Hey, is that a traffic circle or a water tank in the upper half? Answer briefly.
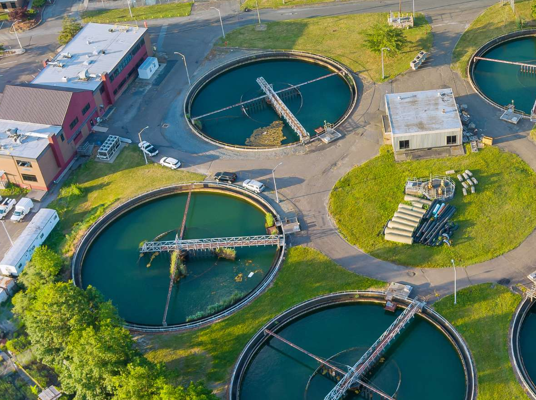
water tank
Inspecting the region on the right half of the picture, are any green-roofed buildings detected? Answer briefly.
No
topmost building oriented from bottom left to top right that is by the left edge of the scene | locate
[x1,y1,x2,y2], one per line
[0,21,155,193]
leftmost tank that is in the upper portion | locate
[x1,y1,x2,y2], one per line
[183,49,358,152]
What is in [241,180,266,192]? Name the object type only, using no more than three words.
vehicle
